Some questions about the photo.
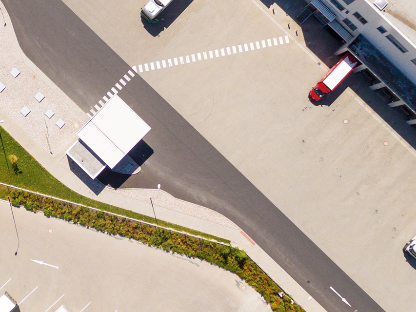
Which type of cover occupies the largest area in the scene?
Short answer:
paved ground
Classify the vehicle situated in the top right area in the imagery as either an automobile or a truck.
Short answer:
truck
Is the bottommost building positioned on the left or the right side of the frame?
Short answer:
left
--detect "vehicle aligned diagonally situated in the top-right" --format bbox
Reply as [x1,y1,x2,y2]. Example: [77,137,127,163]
[310,54,358,102]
